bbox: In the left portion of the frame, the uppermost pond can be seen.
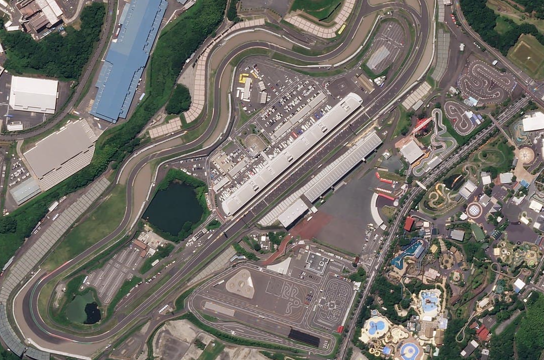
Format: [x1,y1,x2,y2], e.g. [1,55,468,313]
[144,182,205,236]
